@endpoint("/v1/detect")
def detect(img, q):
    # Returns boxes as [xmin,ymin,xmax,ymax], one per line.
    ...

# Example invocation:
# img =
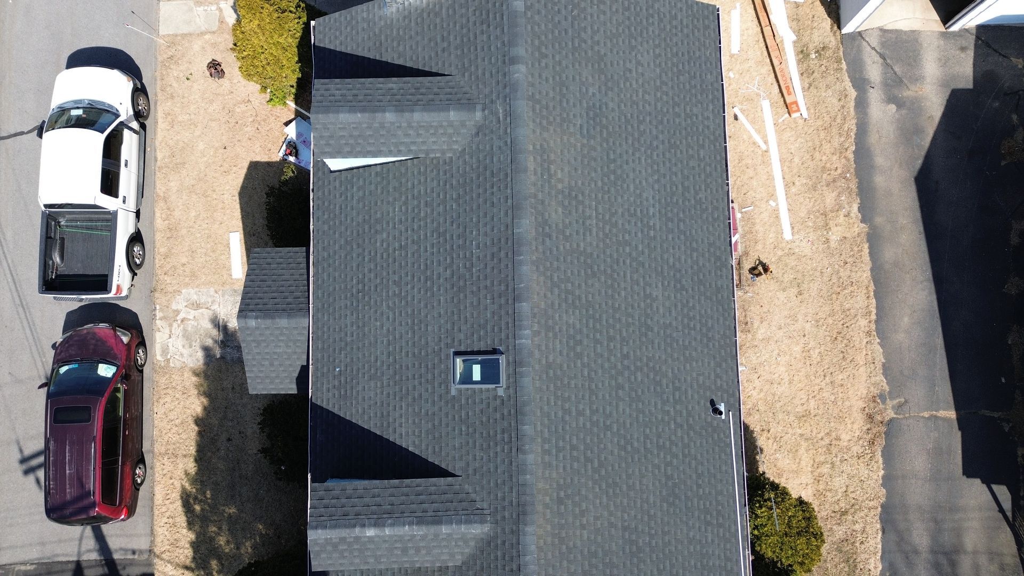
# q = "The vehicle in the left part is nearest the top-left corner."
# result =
[30,64,150,307]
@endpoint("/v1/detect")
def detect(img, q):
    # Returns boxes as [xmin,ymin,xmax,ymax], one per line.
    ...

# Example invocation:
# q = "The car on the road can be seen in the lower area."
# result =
[38,322,149,527]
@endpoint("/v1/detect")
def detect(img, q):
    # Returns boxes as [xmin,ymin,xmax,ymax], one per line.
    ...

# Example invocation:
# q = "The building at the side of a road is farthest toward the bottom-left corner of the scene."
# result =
[236,0,755,576]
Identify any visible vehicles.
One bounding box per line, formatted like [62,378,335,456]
[38,322,149,527]
[30,64,150,307]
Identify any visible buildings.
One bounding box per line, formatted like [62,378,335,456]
[839,0,1024,33]
[236,0,755,576]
